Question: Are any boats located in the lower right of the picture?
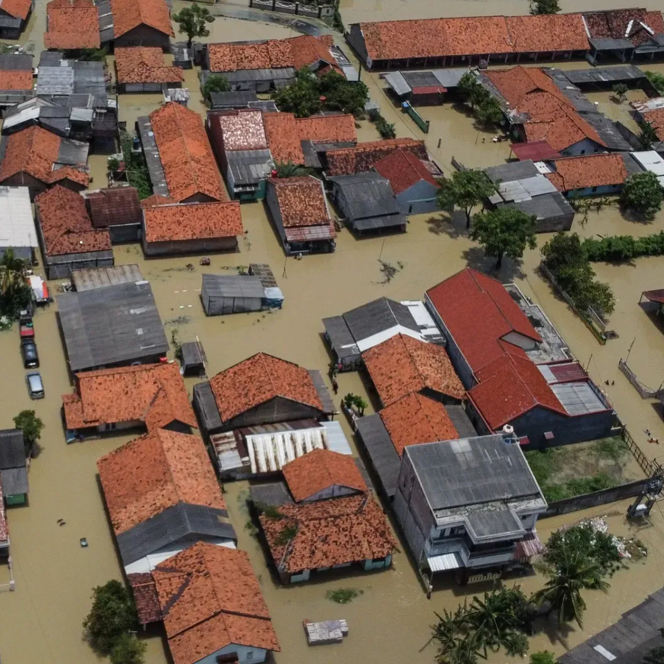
No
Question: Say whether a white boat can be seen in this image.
No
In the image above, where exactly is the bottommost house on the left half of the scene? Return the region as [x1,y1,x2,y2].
[127,541,279,664]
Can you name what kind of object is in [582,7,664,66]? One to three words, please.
house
